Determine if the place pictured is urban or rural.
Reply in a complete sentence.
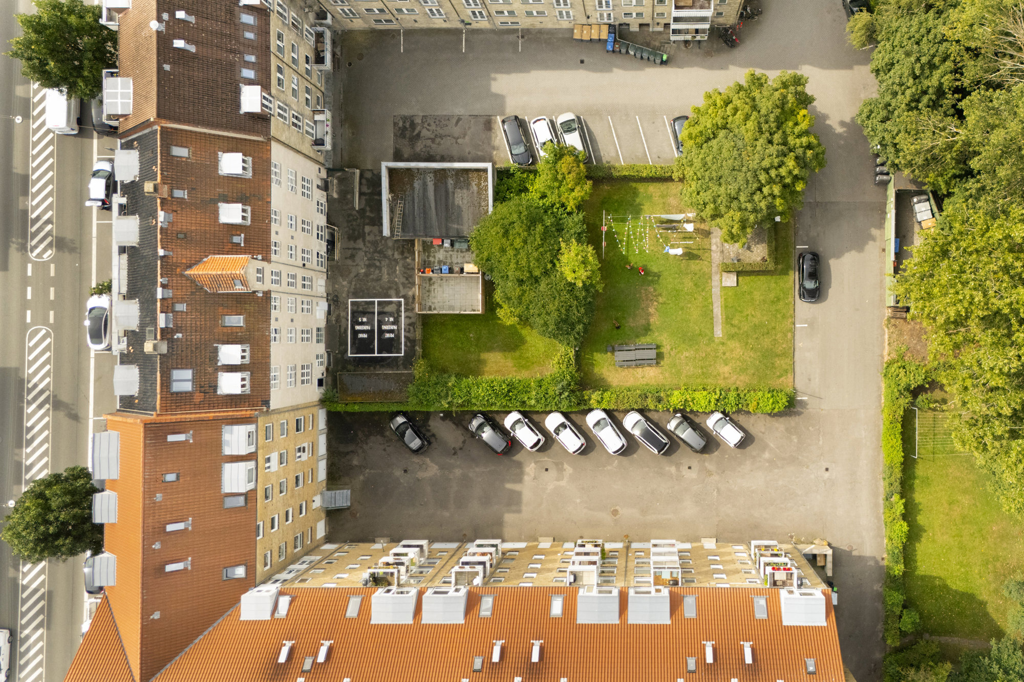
The area shown here is urban.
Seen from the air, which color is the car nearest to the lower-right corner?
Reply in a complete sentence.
From above, the car nearest to the lower-right corner appears white.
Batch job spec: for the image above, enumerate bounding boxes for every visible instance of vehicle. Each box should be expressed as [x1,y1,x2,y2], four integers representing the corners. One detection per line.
[797,250,822,302]
[503,114,532,164]
[665,413,708,454]
[49,90,85,140]
[88,92,114,135]
[624,412,669,456]
[585,409,629,457]
[469,412,512,457]
[671,112,690,140]
[706,414,745,448]
[81,295,109,349]
[390,411,431,456]
[82,548,104,596]
[560,111,589,159]
[545,411,586,455]
[84,163,112,210]
[532,115,560,152]
[504,410,545,453]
